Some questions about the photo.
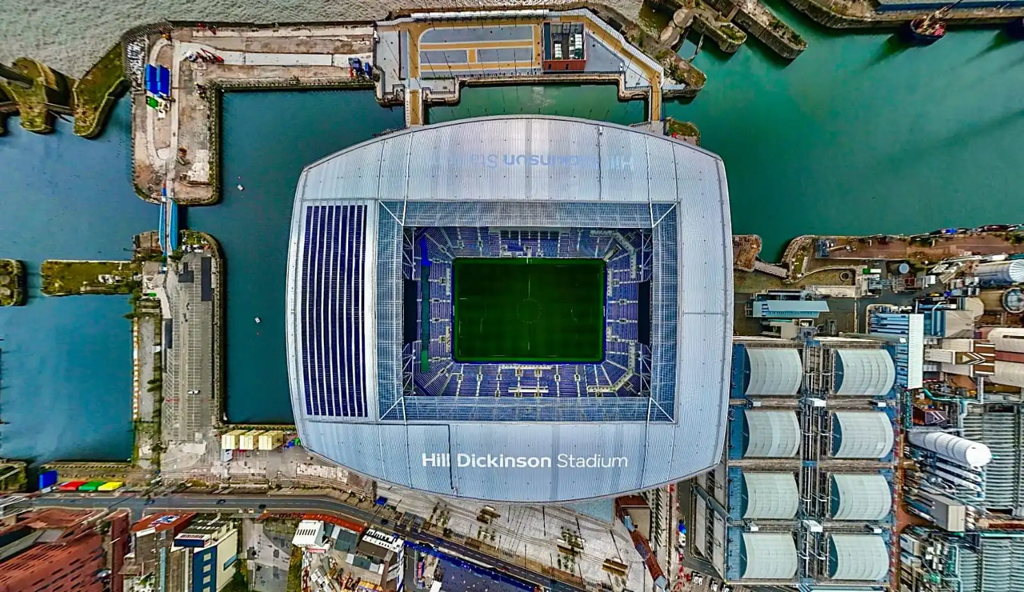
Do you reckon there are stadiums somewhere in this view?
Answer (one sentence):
Yes, looking at the shot, I can spot a stadium.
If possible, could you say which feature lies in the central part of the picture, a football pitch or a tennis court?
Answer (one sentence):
It is a football pitch that can be seen in the central part of the picture.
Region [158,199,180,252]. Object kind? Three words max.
bridge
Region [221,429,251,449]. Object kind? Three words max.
building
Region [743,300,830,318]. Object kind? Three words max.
shed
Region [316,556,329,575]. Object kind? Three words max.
vehicle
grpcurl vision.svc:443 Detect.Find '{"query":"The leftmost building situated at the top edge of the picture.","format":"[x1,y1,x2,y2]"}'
[542,19,587,70]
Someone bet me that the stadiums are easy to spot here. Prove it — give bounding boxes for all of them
[286,115,733,504]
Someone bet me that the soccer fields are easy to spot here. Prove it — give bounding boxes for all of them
[451,259,606,365]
